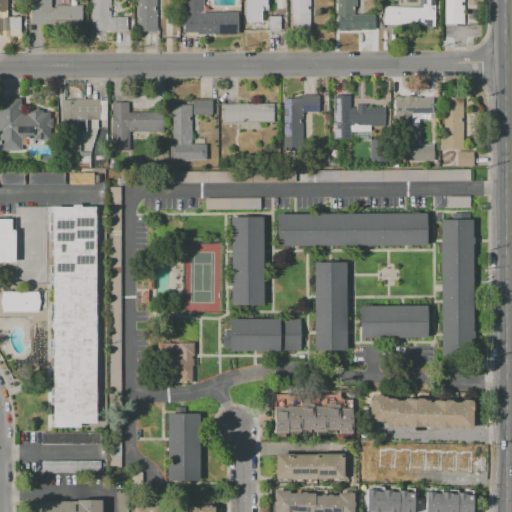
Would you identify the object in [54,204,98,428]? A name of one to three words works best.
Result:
building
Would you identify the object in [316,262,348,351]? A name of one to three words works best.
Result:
building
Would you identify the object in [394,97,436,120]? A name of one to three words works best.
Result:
house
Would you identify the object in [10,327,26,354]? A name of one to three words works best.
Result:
swimming pool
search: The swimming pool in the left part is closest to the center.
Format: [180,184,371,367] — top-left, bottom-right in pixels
[157,262,169,293]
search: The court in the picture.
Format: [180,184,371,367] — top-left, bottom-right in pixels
[186,243,222,312]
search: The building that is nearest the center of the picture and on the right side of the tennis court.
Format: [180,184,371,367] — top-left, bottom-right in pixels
[232,216,265,306]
